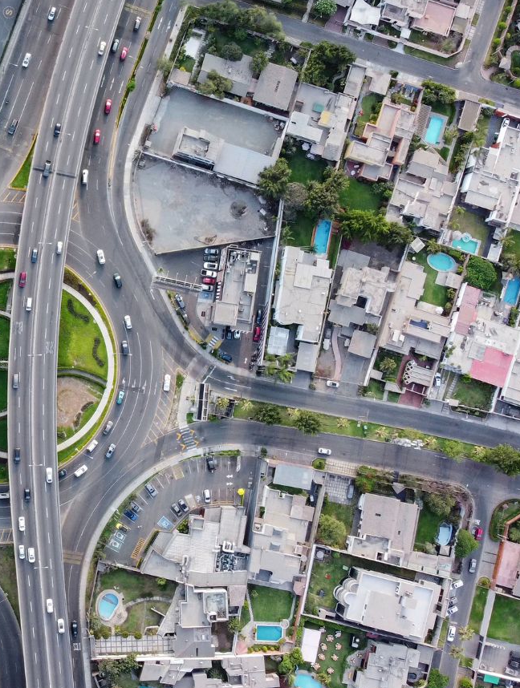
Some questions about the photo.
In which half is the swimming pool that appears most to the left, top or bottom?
bottom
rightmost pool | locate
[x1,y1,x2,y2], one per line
[501,274,520,308]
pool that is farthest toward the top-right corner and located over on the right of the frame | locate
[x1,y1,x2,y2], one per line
[421,110,450,149]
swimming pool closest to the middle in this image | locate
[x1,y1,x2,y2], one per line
[314,218,335,256]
